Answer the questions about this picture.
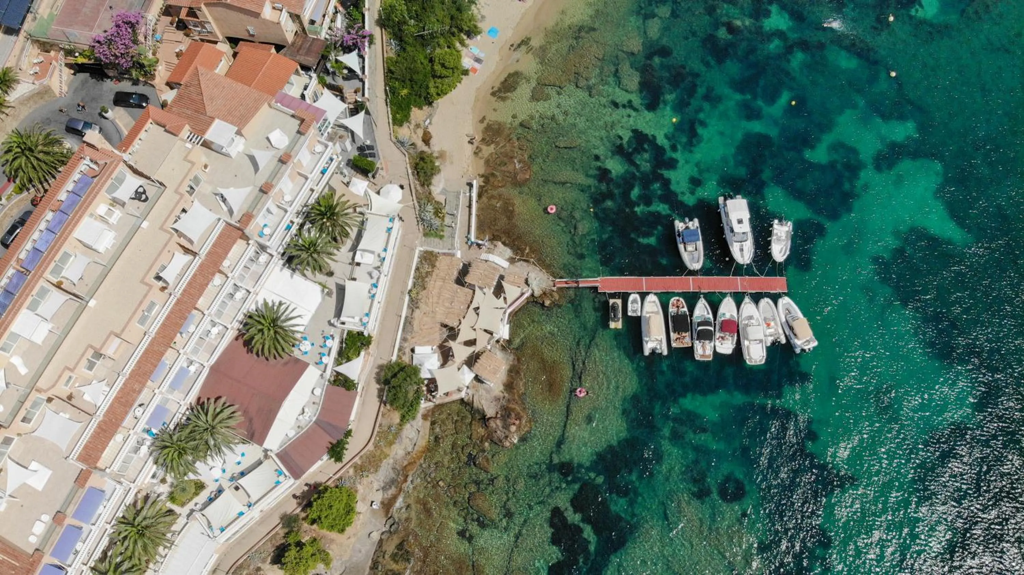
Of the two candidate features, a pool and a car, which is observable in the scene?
car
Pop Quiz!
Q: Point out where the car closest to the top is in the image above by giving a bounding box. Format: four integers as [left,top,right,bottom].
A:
[110,90,152,110]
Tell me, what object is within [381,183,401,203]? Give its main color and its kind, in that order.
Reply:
white umbrella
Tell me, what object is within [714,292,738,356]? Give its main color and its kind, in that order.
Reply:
white boat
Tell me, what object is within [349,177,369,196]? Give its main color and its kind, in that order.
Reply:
white umbrella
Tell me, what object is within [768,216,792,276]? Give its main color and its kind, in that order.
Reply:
white boat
